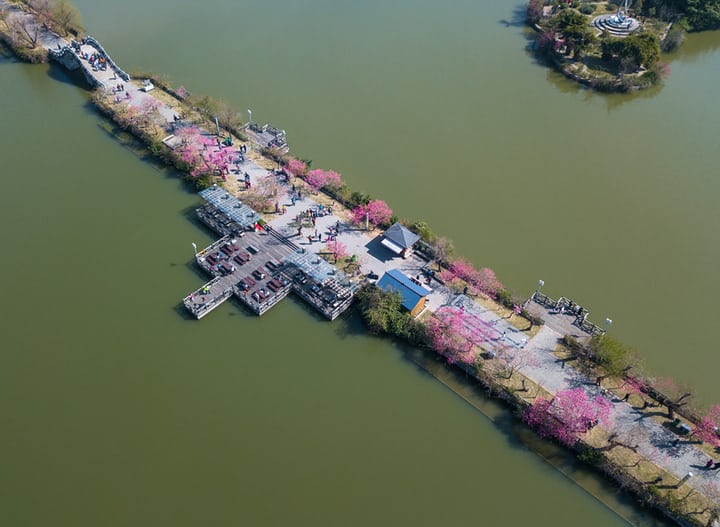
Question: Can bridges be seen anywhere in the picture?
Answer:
Yes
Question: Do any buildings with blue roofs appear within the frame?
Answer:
Yes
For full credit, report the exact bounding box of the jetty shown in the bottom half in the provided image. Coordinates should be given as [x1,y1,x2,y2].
[522,291,605,351]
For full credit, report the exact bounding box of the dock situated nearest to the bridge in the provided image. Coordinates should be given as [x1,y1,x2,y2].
[234,122,288,157]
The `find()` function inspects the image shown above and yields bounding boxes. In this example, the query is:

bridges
[46,39,134,91]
